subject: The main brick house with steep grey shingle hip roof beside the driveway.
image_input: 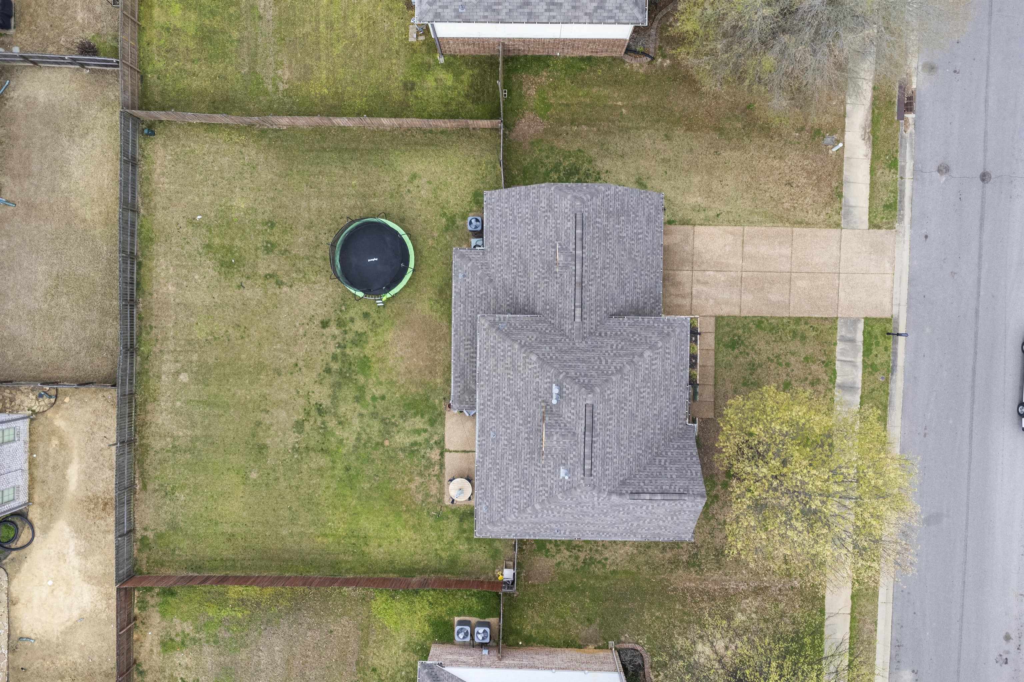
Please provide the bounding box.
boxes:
[450,180,709,543]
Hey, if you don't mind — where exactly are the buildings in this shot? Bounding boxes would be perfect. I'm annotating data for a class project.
[450,180,709,543]
[416,640,629,682]
[0,415,33,518]
[413,0,650,60]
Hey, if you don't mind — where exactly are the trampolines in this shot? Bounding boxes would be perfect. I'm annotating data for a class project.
[329,214,422,308]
